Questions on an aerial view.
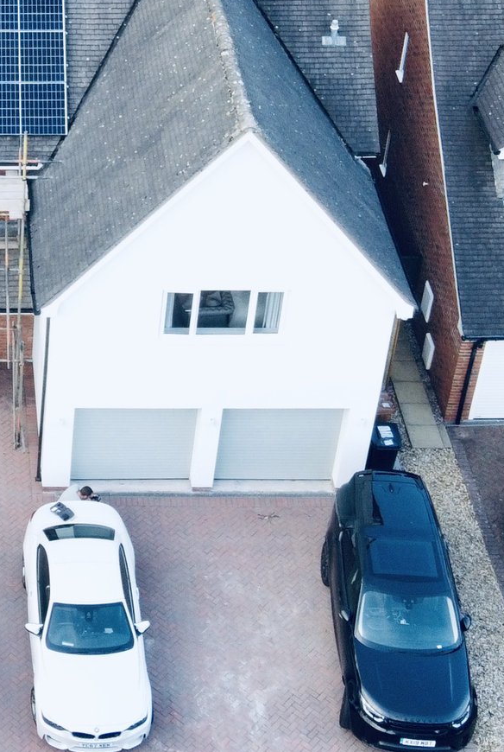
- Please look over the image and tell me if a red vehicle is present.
No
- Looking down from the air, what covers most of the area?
buildings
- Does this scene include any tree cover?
No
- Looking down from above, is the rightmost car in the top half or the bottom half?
bottom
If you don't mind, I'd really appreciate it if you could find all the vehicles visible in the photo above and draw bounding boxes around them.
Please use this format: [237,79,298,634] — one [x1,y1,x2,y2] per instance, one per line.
[316,469,484,749]
[20,498,155,752]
